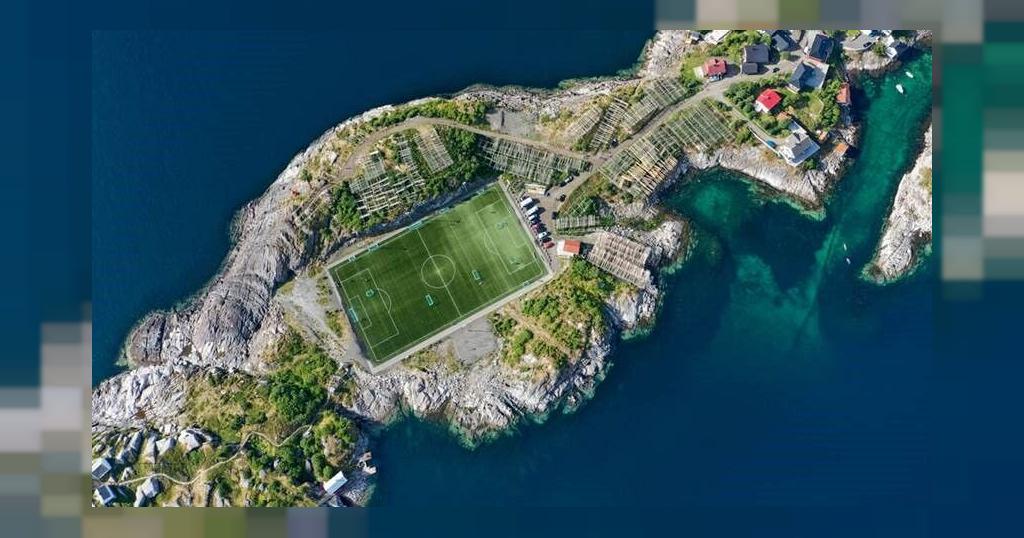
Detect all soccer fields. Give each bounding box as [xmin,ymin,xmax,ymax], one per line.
[327,181,553,371]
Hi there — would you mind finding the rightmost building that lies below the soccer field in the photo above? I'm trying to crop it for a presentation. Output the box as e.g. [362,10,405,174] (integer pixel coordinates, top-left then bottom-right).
[324,471,349,494]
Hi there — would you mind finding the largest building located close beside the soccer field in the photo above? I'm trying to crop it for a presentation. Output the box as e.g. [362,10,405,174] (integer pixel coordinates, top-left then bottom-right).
[557,239,581,257]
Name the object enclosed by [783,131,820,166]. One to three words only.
house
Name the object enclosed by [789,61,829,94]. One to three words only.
house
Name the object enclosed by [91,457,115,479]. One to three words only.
building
